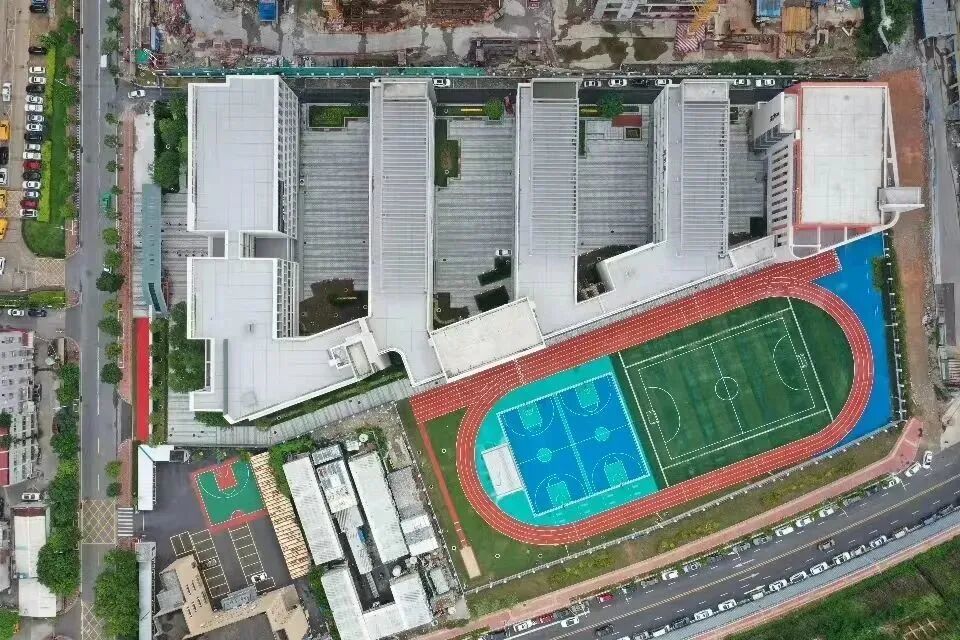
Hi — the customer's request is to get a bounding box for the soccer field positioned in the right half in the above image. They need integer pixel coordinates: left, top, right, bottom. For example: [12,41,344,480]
[617,297,855,488]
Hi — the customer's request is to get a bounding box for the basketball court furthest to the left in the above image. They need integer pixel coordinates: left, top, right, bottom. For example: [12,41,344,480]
[189,459,268,534]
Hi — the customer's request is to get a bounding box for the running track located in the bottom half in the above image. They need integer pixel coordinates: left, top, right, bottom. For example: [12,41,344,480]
[409,247,875,545]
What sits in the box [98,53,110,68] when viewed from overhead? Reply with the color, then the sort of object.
white vehicle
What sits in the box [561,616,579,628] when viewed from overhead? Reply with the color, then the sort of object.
white vehicle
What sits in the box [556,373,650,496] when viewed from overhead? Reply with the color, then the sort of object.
blue basketball court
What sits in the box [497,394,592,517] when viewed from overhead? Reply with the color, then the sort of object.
blue basketball court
